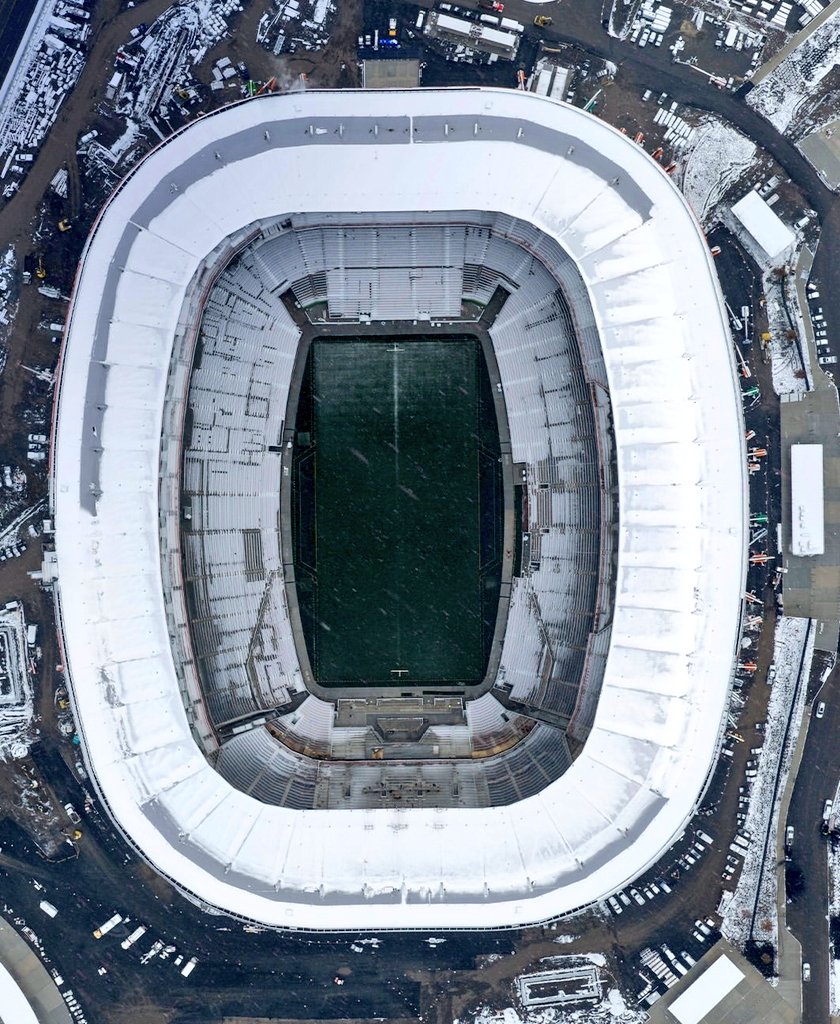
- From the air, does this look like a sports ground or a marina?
sports ground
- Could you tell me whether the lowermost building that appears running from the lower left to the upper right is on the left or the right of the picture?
right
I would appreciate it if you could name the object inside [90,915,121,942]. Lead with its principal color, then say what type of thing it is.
white truck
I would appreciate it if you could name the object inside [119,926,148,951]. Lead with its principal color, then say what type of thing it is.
white truck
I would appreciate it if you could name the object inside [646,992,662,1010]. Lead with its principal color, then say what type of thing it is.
white vehicle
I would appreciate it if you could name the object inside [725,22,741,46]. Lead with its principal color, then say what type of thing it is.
white vehicle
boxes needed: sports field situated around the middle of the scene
[291,336,503,687]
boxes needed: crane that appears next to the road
[665,60,742,93]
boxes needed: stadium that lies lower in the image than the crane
[50,88,749,932]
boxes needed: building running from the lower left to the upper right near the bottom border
[667,954,745,1024]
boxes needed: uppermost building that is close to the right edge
[795,116,840,193]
